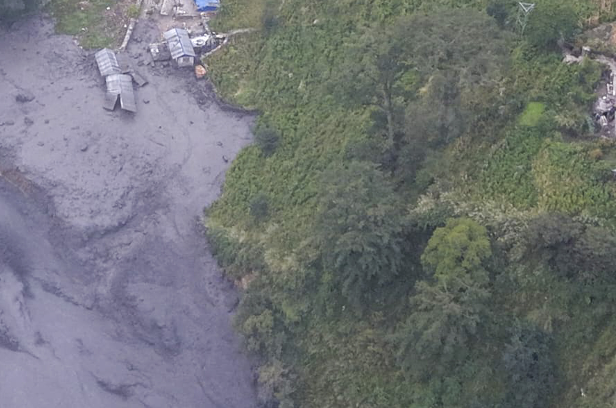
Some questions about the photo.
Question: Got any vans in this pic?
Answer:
No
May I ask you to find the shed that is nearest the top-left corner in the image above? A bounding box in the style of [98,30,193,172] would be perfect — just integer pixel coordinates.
[94,48,124,75]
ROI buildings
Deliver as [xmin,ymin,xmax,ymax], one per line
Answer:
[189,0,221,16]
[94,48,124,75]
[103,75,137,113]
[163,28,197,72]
